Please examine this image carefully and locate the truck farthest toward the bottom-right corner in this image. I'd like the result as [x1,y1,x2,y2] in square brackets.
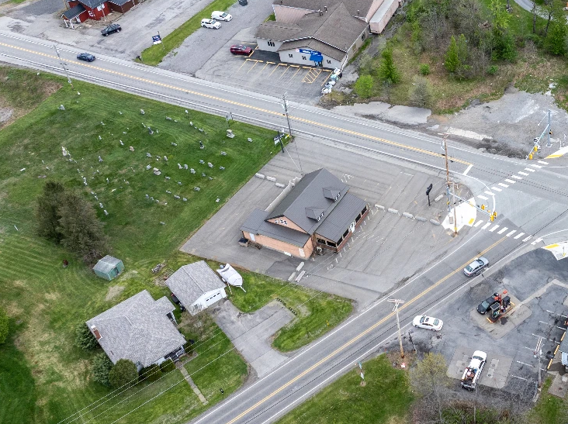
[461,349,486,386]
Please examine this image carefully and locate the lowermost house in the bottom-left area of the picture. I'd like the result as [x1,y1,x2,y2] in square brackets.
[86,290,194,383]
